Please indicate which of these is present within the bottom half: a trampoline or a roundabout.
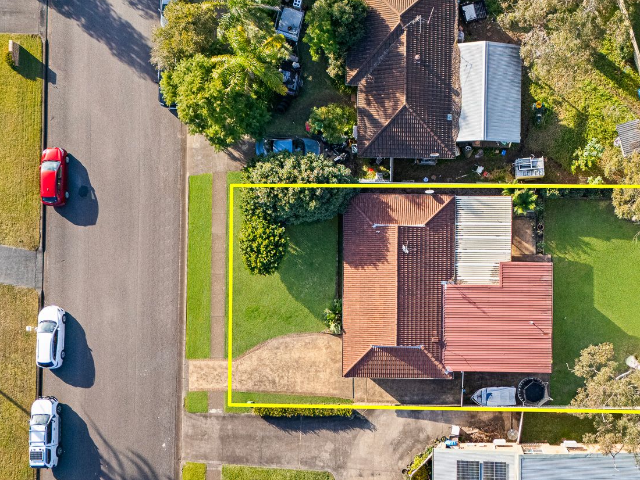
trampoline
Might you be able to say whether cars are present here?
Yes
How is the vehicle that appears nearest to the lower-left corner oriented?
vertically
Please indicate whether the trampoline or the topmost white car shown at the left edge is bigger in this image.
the car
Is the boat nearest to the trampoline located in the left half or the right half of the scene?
right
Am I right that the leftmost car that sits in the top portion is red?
Yes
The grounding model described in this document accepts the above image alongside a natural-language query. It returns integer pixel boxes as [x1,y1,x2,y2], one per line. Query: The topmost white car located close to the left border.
[29,308,66,370]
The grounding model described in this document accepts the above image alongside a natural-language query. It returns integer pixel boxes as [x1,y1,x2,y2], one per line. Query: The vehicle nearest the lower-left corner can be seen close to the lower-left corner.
[23,396,63,472]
